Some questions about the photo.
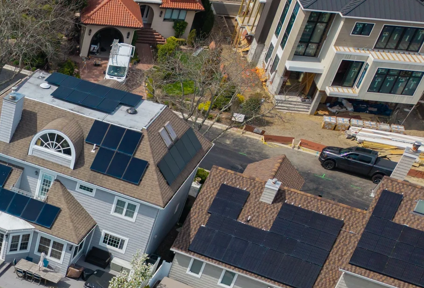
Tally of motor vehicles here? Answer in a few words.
2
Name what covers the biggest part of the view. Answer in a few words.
buildings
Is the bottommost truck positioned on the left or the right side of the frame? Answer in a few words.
right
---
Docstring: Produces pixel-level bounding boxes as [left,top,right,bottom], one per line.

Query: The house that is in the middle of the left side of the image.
[0,67,212,272]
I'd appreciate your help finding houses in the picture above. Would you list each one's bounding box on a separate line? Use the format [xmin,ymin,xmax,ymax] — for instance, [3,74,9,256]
[234,0,424,114]
[0,67,212,272]
[166,131,424,288]
[78,0,204,53]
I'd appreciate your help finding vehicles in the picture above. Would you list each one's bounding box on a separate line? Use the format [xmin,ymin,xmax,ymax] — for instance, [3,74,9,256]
[108,31,136,73]
[320,146,392,183]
